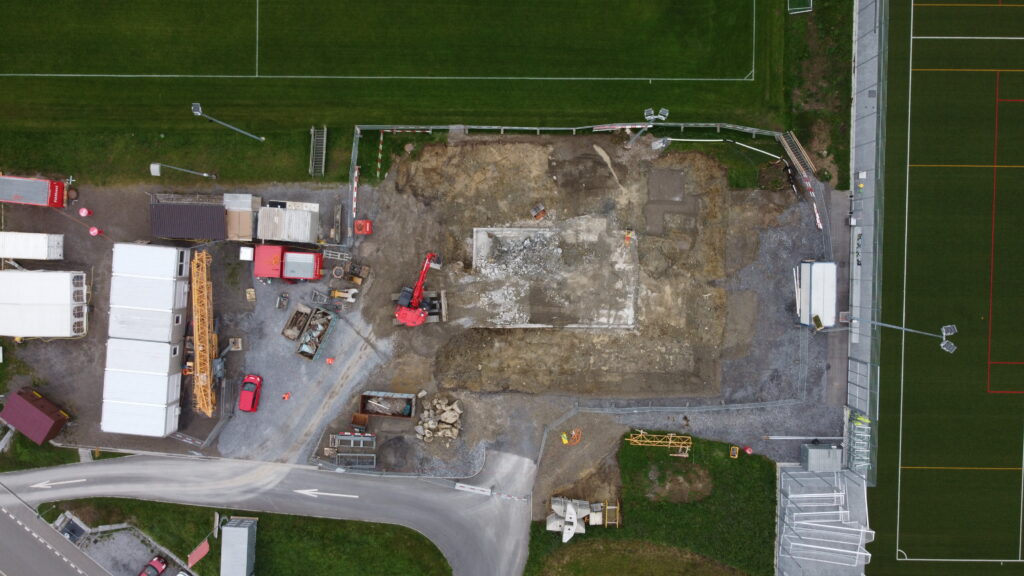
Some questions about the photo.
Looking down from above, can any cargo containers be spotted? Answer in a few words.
Yes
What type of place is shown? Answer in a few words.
sports ground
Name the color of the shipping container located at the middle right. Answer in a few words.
white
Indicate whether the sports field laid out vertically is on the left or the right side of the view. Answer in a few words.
right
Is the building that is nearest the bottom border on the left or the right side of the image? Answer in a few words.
left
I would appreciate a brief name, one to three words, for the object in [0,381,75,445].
shed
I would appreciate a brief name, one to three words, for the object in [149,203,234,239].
shed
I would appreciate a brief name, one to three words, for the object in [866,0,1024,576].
sports field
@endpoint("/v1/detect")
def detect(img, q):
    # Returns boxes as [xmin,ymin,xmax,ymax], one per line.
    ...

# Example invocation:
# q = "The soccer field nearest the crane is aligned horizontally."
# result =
[0,0,786,123]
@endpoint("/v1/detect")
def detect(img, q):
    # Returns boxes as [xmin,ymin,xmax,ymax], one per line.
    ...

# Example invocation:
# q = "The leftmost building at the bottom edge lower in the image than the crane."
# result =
[220,511,259,576]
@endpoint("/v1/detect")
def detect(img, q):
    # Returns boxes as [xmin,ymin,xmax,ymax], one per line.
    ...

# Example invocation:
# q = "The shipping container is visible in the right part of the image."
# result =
[799,262,836,327]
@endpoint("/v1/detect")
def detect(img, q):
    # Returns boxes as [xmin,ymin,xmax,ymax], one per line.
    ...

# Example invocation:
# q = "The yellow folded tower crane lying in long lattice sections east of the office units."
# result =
[180,252,236,418]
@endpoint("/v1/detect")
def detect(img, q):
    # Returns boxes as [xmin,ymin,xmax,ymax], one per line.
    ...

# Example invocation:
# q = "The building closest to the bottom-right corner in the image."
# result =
[801,438,843,472]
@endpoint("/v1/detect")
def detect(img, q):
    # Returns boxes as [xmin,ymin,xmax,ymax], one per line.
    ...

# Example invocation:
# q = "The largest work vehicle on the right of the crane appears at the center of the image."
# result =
[390,250,449,327]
